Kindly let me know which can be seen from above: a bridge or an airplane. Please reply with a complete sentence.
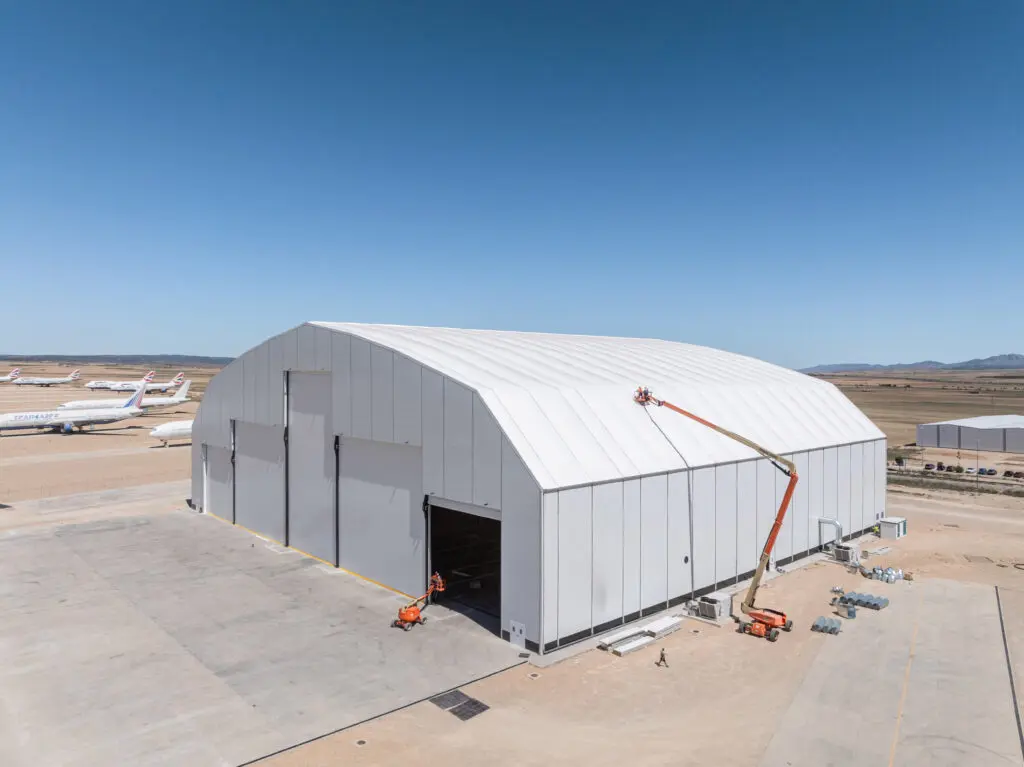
Looking from above, you can make out an airplane.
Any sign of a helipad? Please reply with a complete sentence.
No, this view has no helipad in it.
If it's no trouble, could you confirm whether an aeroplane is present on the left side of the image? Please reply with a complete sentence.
Yes, you'll find an aeroplane on the left side of the image.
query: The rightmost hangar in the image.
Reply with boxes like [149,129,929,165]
[915,414,1024,455]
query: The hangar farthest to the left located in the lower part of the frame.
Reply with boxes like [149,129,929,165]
[191,320,887,653]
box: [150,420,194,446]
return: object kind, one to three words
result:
airplane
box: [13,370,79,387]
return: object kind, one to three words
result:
airplane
